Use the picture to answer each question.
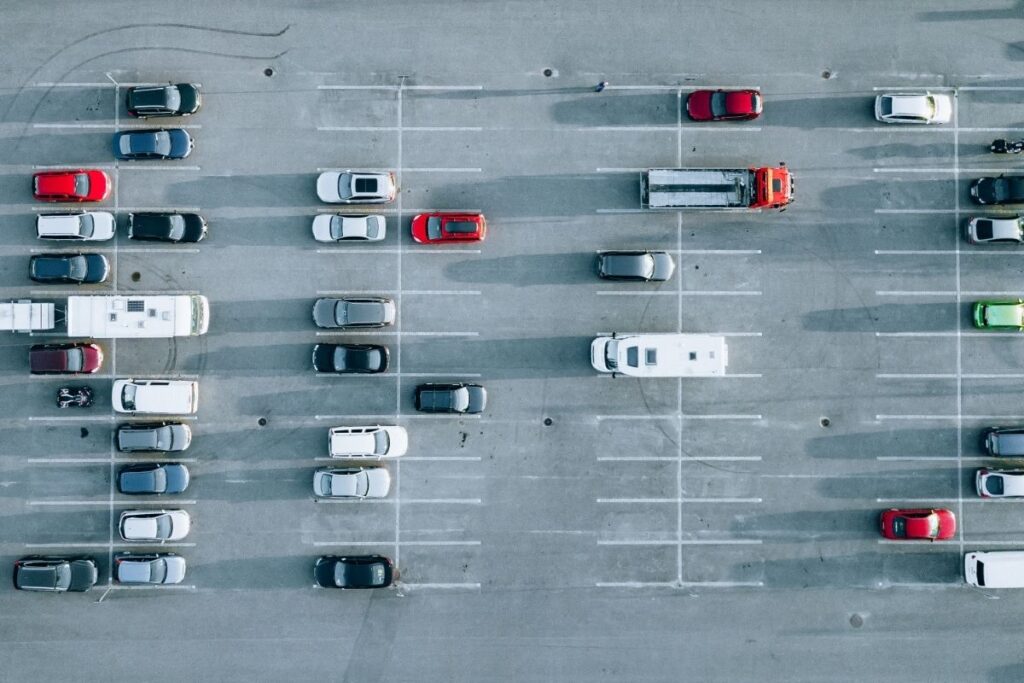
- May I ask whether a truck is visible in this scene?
Yes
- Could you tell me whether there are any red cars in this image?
Yes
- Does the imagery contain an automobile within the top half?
Yes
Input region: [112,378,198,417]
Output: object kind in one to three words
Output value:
van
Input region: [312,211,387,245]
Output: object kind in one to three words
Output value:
car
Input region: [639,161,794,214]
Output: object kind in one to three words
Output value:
truck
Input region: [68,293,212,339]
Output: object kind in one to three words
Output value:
camper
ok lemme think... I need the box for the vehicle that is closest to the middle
[416,381,487,417]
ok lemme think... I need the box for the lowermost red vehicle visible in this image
[879,507,957,544]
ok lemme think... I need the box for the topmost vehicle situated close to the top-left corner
[125,80,201,119]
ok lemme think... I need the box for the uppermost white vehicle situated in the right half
[874,90,953,126]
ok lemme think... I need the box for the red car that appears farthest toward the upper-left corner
[32,166,112,203]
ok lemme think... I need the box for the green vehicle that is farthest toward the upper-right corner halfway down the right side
[973,298,1024,332]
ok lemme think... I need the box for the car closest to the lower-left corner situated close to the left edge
[11,554,99,597]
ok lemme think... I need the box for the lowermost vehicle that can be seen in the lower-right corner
[964,550,1024,591]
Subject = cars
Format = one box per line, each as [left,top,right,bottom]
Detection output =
[119,508,191,546]
[27,341,104,378]
[313,341,390,377]
[115,421,192,457]
[11,554,99,597]
[27,250,110,286]
[966,213,1024,247]
[686,86,764,123]
[32,166,112,203]
[116,462,190,498]
[313,294,396,331]
[973,298,1024,332]
[411,209,486,246]
[416,381,487,417]
[974,466,1024,499]
[980,425,1024,457]
[328,424,409,463]
[969,172,1024,207]
[874,90,953,126]
[114,551,186,589]
[126,209,207,245]
[125,80,201,119]
[312,465,390,502]
[312,211,387,245]
[316,168,396,205]
[879,507,957,544]
[598,248,675,284]
[112,125,194,162]
[35,208,117,243]
[314,552,394,593]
